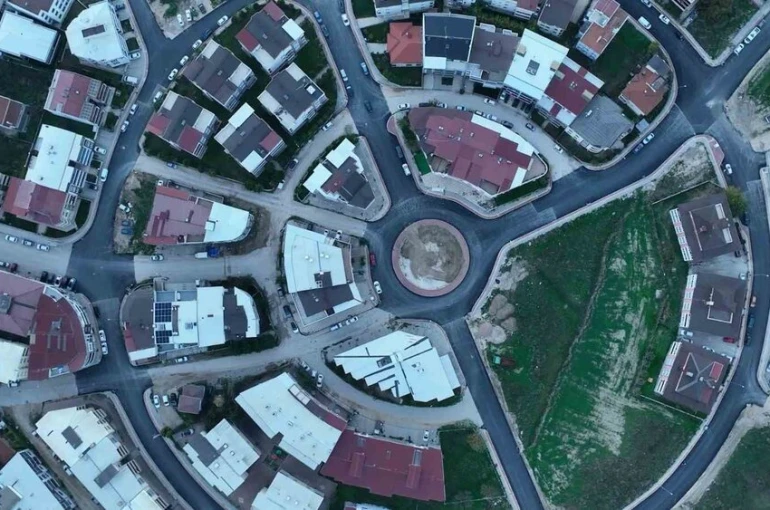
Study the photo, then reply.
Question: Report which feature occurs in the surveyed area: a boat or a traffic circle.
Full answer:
This aerial view contains a traffic circle.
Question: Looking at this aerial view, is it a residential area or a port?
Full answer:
This looks like a residential area.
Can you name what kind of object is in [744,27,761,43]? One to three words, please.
vehicle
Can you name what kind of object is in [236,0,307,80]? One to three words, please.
house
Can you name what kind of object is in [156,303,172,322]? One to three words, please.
solar panel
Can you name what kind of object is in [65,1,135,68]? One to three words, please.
building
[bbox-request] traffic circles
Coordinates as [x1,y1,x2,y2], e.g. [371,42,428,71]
[392,219,469,296]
